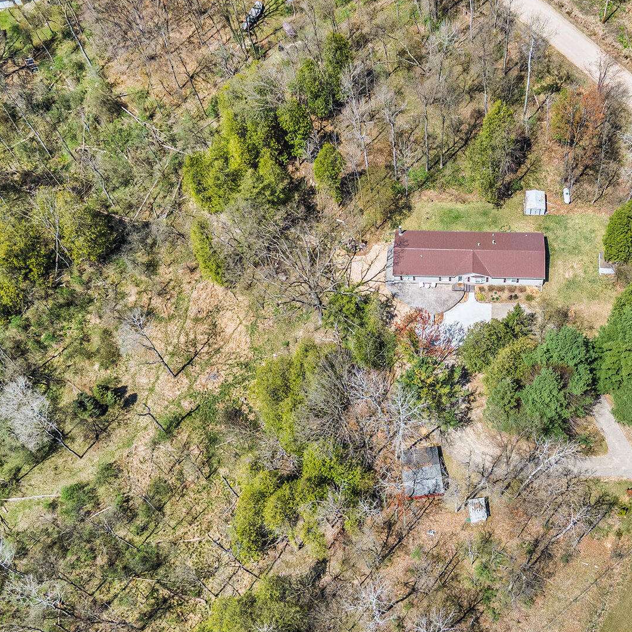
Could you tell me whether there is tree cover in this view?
Yes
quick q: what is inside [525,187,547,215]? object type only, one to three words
shed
